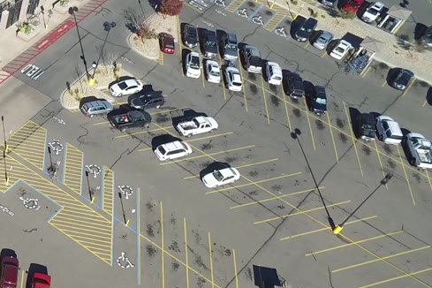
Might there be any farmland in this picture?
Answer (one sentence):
No, there is no farmland in the image.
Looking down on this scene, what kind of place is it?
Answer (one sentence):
The picture captures a parking lot.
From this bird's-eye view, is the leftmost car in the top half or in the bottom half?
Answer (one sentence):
You can find the leftmost car in the bottom half.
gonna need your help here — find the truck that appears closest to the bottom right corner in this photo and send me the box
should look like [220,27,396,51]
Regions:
[404,129,432,170]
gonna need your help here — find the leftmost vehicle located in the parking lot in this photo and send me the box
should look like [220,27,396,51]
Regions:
[0,255,21,288]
